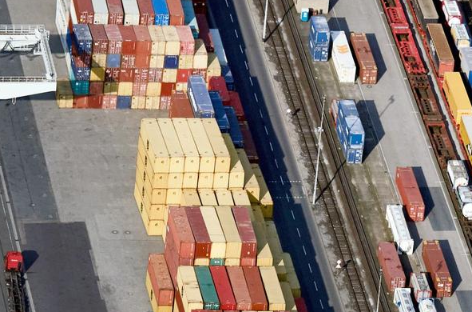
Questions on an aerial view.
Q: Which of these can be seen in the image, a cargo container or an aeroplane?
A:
cargo container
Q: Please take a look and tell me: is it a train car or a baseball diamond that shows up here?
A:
train car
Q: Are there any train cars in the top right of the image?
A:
Yes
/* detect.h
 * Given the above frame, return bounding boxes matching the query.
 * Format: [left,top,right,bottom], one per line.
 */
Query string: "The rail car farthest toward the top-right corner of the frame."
[433,0,451,36]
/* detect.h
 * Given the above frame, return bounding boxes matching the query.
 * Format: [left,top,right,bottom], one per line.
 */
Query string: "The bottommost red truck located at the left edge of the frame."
[2,249,33,312]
